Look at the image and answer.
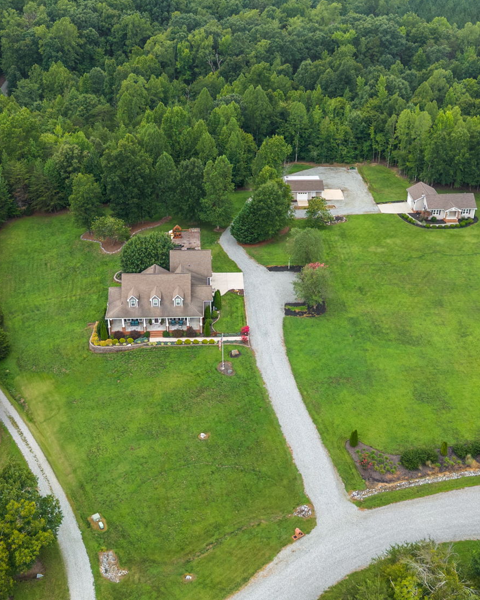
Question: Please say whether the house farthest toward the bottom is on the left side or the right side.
left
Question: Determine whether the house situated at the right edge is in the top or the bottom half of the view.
top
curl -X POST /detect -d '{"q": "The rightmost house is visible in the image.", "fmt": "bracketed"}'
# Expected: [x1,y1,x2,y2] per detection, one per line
[406,182,477,223]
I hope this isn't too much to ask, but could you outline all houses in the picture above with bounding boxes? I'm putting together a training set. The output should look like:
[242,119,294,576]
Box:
[406,182,477,223]
[105,249,212,338]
